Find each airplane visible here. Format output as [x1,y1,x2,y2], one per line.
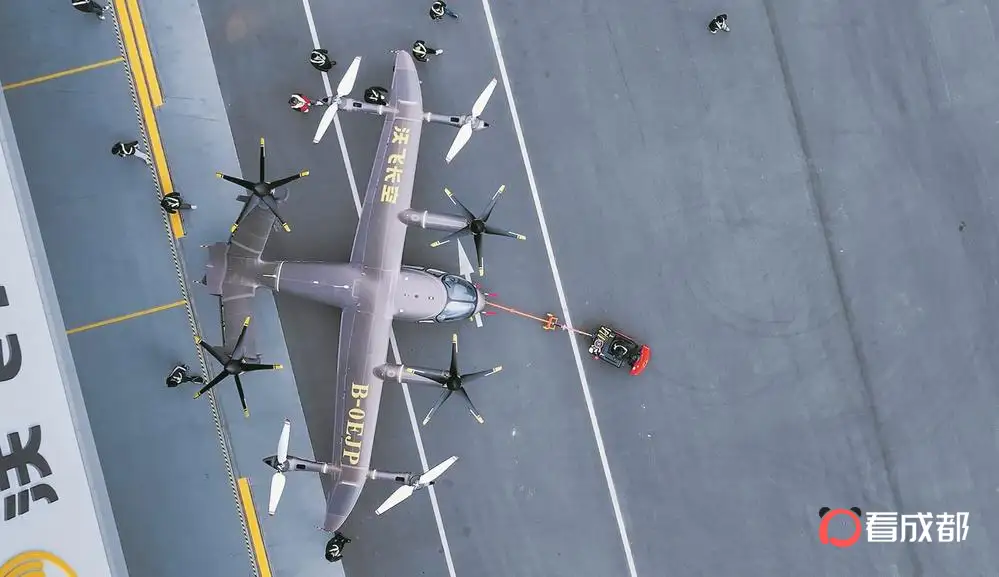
[190,48,524,529]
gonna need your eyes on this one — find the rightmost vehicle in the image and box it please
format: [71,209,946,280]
[589,325,644,374]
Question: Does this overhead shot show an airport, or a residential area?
airport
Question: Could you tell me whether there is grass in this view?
No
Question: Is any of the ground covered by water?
No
